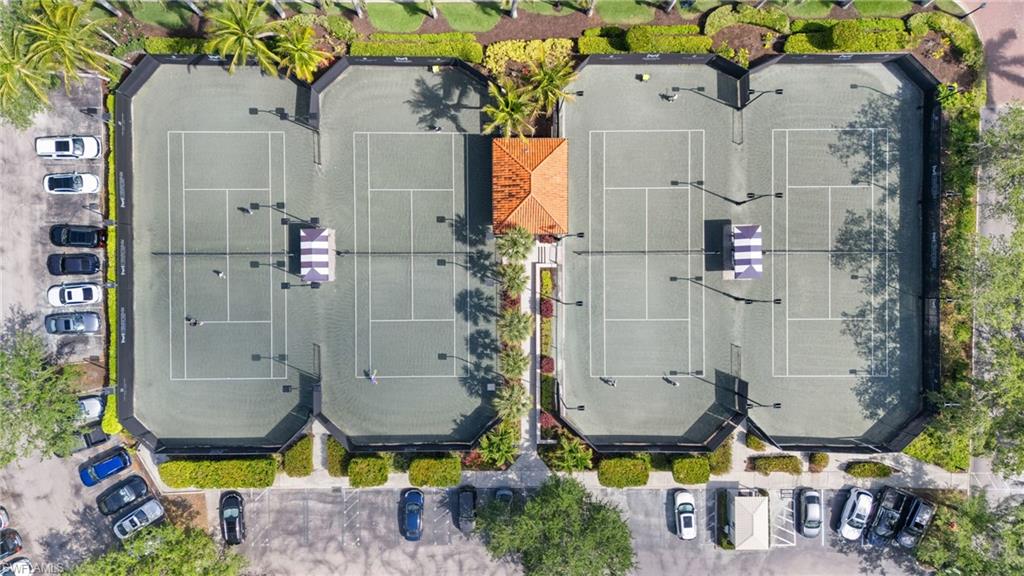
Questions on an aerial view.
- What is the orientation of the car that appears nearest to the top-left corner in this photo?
horizontally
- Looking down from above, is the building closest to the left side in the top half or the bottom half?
top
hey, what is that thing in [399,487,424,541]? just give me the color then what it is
blue car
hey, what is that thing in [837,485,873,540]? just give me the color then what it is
white car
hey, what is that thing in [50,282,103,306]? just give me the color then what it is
white car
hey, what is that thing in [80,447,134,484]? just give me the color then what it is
blue car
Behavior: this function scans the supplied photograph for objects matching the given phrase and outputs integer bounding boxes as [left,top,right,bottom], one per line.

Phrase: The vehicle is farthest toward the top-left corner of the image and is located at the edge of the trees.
[35,134,102,160]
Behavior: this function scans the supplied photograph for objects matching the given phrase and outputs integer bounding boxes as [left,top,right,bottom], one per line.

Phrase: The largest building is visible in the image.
[491,137,569,236]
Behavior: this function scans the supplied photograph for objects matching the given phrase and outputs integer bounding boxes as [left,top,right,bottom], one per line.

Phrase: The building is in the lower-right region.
[729,492,769,550]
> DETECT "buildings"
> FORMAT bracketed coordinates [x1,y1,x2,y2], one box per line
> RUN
[491,137,569,236]
[729,492,769,550]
